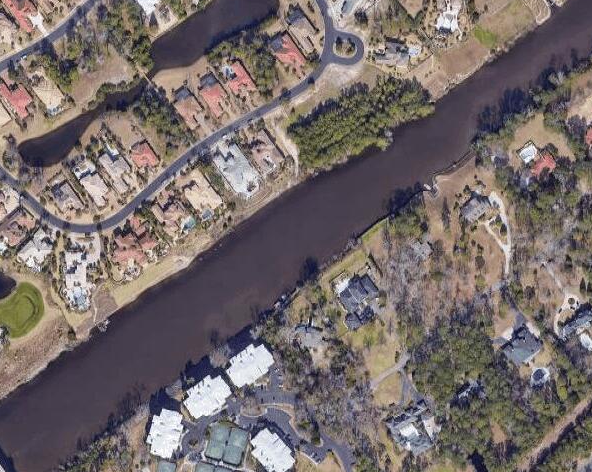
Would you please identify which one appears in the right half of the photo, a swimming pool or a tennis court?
swimming pool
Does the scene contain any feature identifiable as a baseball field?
No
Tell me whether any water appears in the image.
Yes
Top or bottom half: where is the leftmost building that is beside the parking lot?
bottom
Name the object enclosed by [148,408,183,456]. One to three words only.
building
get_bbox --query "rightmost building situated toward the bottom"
[561,313,592,342]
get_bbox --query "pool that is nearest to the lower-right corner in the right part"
[531,366,549,385]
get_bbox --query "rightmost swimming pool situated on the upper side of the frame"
[517,141,539,163]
